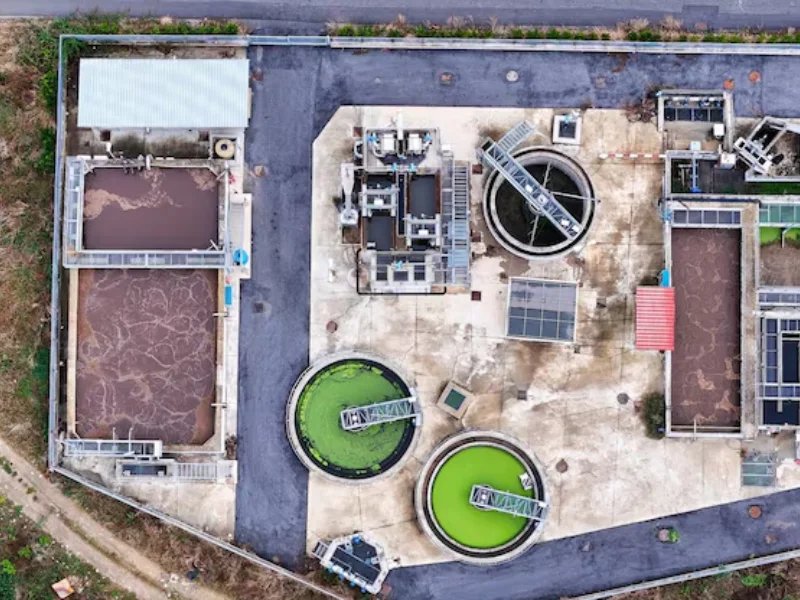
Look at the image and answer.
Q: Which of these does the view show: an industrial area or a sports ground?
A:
industrial area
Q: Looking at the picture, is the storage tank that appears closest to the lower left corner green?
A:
Yes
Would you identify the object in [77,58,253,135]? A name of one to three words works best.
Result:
shed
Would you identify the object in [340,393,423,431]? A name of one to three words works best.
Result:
bridge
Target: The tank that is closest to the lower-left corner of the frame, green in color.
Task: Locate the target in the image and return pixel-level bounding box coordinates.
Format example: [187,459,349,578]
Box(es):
[287,348,423,483]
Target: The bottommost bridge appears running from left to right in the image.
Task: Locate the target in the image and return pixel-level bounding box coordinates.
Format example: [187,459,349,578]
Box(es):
[469,485,552,525]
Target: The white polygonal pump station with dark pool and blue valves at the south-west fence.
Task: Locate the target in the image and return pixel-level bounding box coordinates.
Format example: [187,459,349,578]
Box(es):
[311,529,388,593]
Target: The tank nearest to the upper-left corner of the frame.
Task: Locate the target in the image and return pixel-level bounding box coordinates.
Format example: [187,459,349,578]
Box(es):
[212,136,239,162]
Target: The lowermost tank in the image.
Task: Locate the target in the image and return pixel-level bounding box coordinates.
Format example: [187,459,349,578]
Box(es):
[415,427,552,562]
